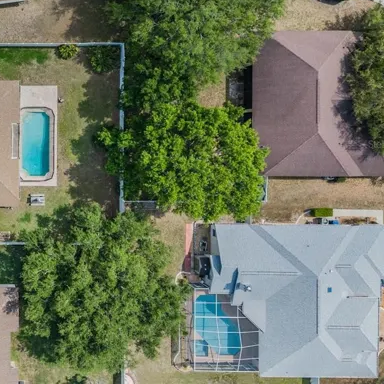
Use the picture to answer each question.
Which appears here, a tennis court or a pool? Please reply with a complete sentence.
There is a pool in the scene.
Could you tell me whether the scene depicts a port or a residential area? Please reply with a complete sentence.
The picture captures a residential area.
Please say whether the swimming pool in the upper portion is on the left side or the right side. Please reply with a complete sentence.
It is on the left.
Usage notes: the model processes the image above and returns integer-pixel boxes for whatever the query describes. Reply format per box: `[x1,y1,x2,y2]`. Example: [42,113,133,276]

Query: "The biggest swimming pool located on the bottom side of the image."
[195,293,242,357]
